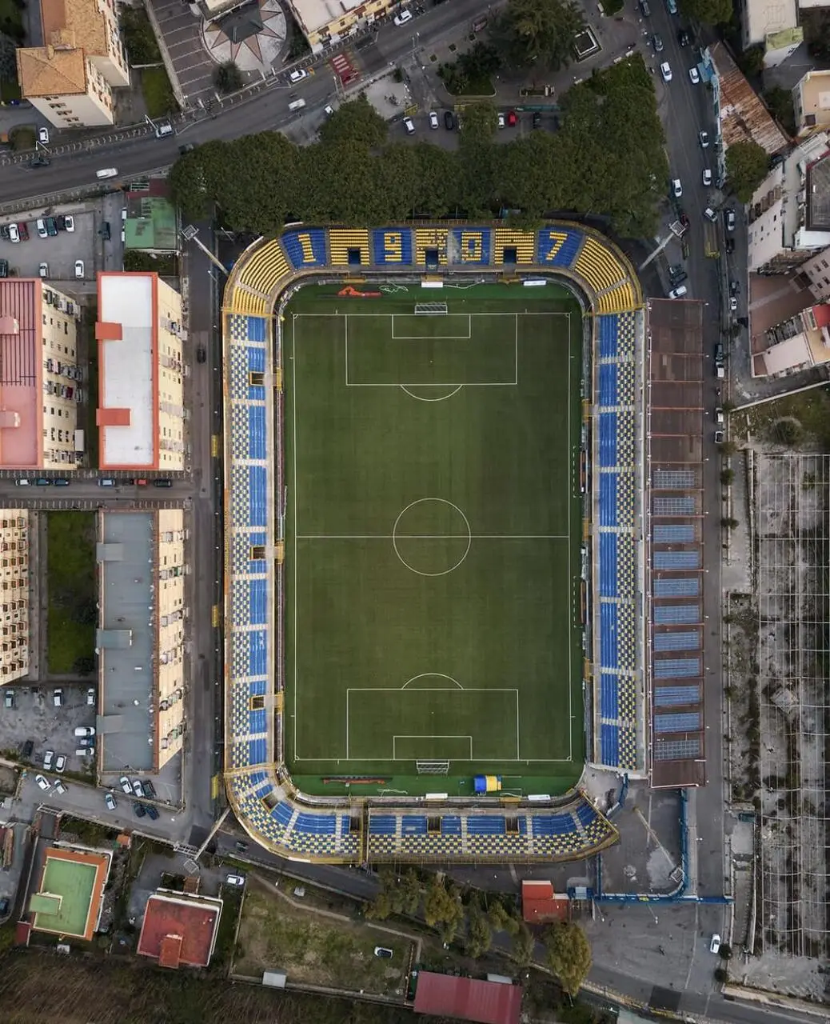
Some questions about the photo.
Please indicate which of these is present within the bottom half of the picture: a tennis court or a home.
home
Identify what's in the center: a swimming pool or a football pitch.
football pitch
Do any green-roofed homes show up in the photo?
Yes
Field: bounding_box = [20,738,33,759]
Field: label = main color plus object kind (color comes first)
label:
black vehicle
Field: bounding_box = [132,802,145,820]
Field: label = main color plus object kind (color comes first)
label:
black vehicle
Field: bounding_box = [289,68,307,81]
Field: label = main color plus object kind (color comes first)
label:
white vehicle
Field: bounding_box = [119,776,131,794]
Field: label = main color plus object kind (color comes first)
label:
white vehicle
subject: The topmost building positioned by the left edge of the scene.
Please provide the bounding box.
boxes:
[15,0,130,130]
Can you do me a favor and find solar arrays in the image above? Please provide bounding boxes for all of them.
[653,525,694,543]
[653,712,700,732]
[653,631,699,650]
[654,551,699,569]
[652,470,694,488]
[654,605,699,623]
[655,739,700,760]
[653,658,699,677]
[653,578,699,597]
[654,685,700,705]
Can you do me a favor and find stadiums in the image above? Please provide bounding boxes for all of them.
[221,213,710,867]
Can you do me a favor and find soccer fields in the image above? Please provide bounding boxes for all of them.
[283,279,587,798]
